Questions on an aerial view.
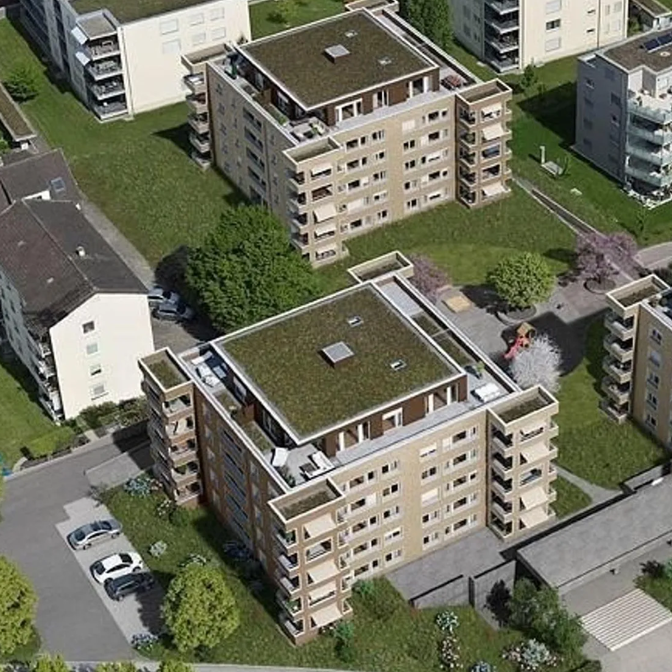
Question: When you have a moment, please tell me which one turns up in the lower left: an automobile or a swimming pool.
automobile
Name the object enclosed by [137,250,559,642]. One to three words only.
building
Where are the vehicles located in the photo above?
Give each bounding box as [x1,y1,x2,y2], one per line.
[102,567,157,598]
[150,297,194,321]
[142,278,182,299]
[89,549,143,576]
[67,517,120,545]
